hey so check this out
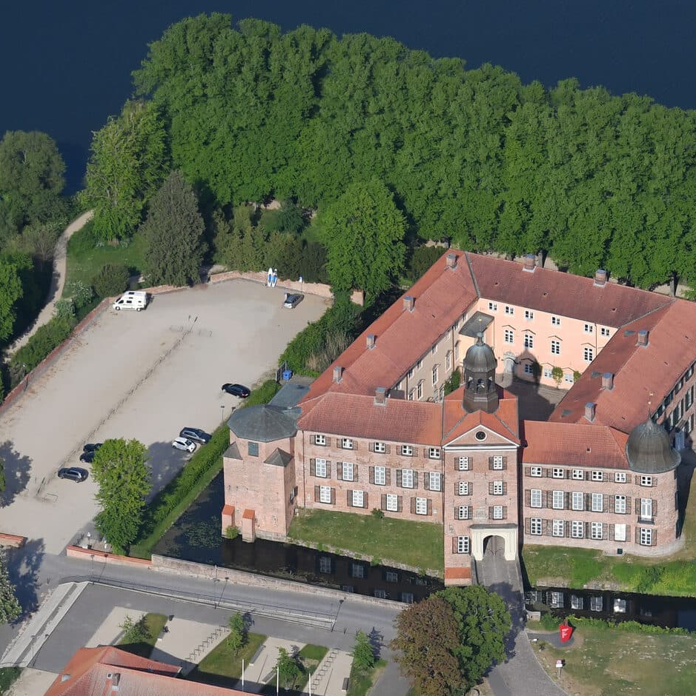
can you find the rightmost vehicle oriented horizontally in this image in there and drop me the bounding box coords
[219,381,249,396]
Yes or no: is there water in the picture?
Yes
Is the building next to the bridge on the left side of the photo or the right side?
right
